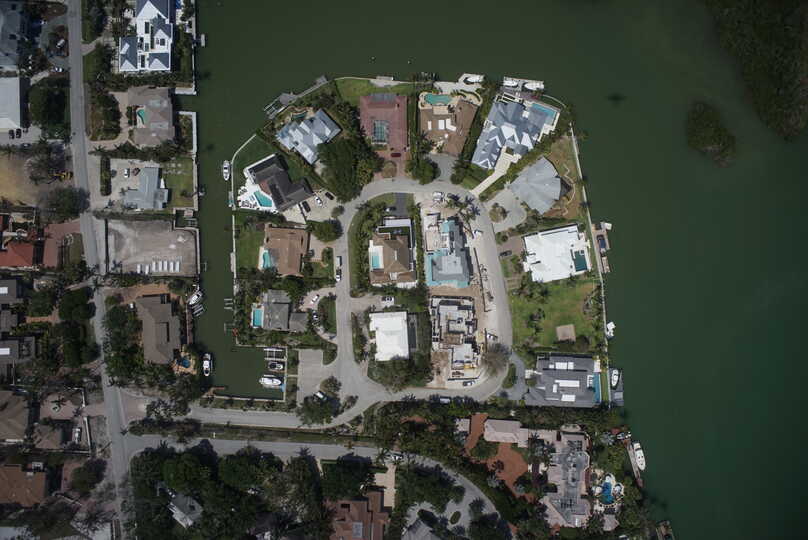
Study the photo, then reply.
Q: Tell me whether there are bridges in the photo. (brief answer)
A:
No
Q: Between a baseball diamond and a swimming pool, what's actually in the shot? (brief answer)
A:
swimming pool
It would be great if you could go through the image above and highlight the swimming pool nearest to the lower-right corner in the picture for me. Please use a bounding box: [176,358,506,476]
[599,482,615,504]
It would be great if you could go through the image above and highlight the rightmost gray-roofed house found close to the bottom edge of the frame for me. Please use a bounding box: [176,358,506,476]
[531,426,590,527]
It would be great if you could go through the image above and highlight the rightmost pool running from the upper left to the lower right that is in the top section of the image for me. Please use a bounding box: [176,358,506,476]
[532,103,556,125]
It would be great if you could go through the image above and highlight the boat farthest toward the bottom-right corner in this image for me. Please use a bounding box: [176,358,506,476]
[630,440,644,471]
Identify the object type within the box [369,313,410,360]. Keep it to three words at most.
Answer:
house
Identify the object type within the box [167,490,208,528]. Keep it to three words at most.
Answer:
house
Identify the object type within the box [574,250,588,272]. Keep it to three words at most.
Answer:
swimming pool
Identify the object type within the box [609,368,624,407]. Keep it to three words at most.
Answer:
pier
